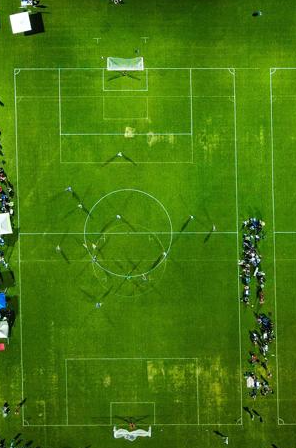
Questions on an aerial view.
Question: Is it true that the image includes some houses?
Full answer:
No, the frame has no house in it.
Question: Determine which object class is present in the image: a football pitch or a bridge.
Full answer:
Of the two, only a football pitch appears.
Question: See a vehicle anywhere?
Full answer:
No, the picture doesn't show any vehicle.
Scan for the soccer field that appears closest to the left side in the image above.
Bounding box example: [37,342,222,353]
[15,68,242,426]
